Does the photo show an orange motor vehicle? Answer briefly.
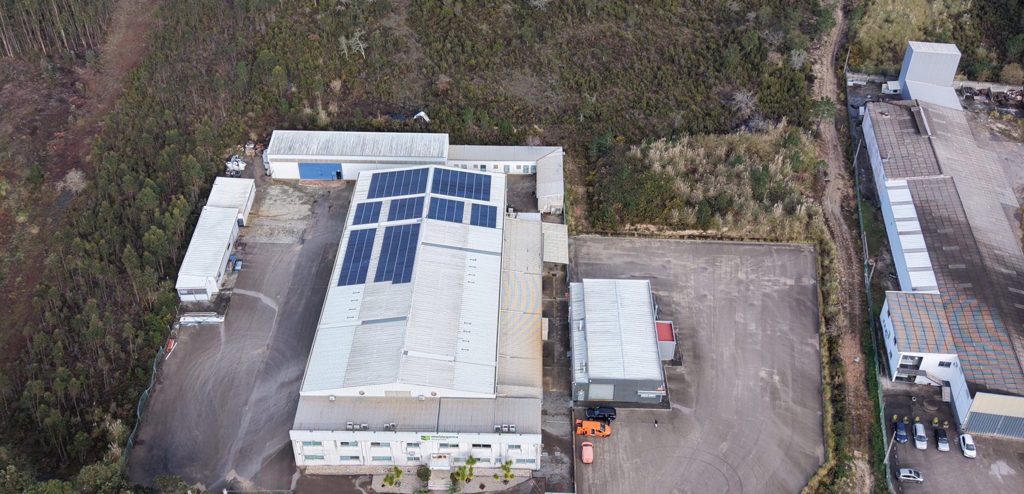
Yes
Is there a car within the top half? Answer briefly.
No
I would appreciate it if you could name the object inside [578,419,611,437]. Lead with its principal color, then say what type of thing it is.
orange vehicle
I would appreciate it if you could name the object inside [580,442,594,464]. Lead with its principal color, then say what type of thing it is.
pink vehicle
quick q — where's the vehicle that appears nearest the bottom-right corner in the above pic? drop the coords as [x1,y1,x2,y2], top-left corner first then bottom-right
[959,434,977,458]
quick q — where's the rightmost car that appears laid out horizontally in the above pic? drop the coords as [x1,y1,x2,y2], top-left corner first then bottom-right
[894,468,925,483]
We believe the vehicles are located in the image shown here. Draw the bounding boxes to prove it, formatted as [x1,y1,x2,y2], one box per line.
[891,423,908,446]
[894,468,925,483]
[959,434,977,458]
[578,419,611,437]
[911,425,928,450]
[933,429,950,452]
[580,442,594,464]
[586,407,616,422]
